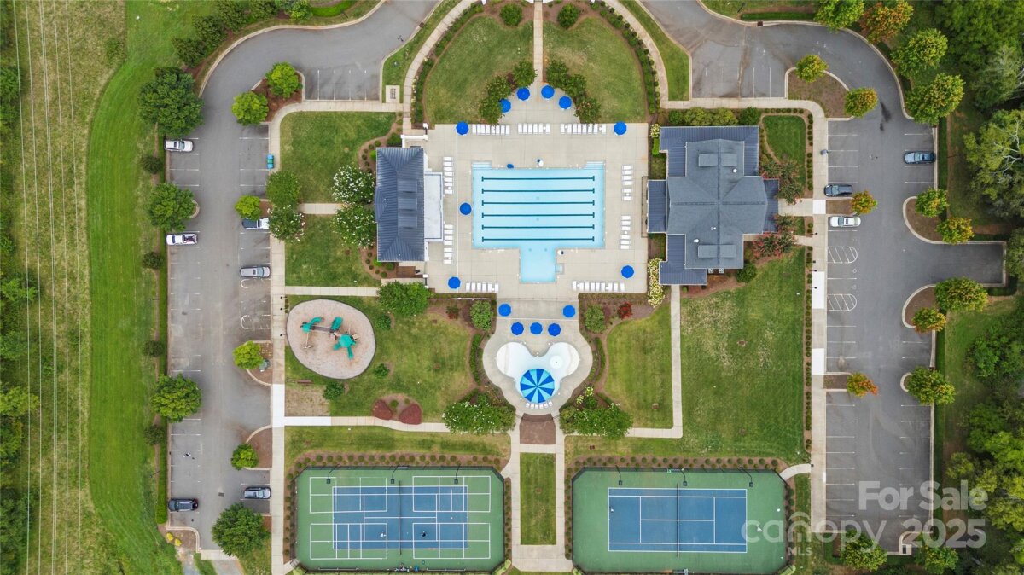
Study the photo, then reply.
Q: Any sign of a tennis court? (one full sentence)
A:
Yes, there's a tennis court down there.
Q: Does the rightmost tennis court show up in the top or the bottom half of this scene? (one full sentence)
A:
You can find the rightmost tennis court in the bottom half.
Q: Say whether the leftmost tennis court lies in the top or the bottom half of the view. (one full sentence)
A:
It is in the bottom half that the leftmost tennis court appears.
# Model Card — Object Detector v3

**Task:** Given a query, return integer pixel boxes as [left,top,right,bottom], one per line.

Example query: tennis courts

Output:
[296,471,503,571]
[574,472,786,573]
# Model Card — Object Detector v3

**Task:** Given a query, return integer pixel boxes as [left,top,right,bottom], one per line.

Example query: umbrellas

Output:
[548,323,561,336]
[448,276,461,289]
[499,99,511,112]
[455,122,468,134]
[541,85,554,98]
[459,202,472,215]
[498,303,511,316]
[621,265,634,278]
[614,121,627,134]
[520,370,555,404]
[530,322,543,335]
[563,305,576,318]
[517,87,530,100]
[559,96,572,109]
[511,322,524,335]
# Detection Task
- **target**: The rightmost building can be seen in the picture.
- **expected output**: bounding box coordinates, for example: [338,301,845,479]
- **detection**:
[648,126,779,285]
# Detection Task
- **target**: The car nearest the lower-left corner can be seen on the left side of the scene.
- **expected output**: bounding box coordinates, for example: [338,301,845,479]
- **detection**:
[169,498,199,512]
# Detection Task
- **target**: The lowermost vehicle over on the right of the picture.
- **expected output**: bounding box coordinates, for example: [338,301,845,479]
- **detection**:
[830,215,861,228]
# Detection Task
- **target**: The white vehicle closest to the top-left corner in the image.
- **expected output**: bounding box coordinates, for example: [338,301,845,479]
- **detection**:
[163,139,195,152]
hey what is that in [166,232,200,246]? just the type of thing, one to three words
vehicle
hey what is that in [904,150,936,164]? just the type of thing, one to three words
car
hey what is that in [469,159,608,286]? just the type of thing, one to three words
swimming pool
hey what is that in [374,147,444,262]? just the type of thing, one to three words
building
